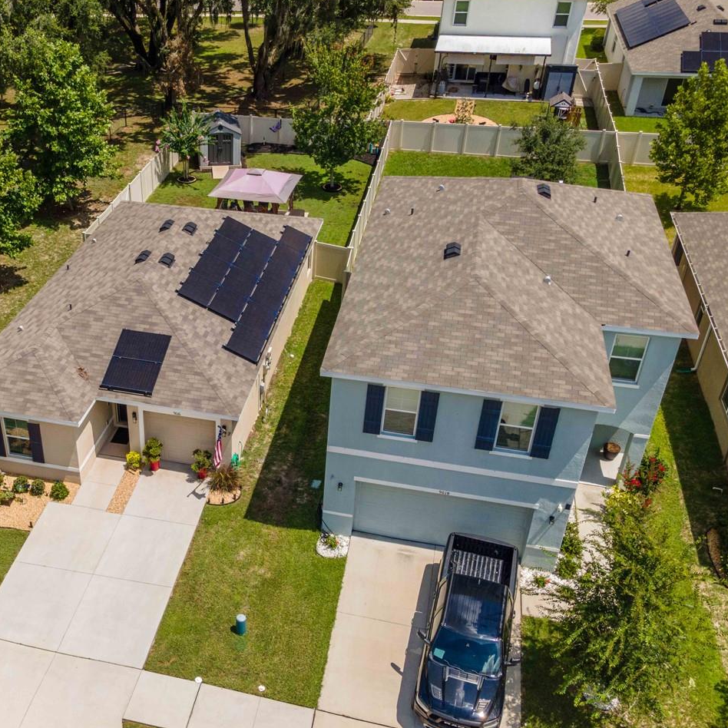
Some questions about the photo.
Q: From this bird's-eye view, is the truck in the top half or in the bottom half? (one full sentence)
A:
The bottom half of the photo is where the truck is.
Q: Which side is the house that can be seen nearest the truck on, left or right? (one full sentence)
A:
It is on the right.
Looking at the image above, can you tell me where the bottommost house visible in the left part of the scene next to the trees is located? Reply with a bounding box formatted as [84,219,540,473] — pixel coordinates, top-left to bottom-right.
[0,203,325,482]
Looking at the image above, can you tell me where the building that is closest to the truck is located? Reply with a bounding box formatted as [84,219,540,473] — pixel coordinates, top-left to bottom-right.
[318,175,702,570]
